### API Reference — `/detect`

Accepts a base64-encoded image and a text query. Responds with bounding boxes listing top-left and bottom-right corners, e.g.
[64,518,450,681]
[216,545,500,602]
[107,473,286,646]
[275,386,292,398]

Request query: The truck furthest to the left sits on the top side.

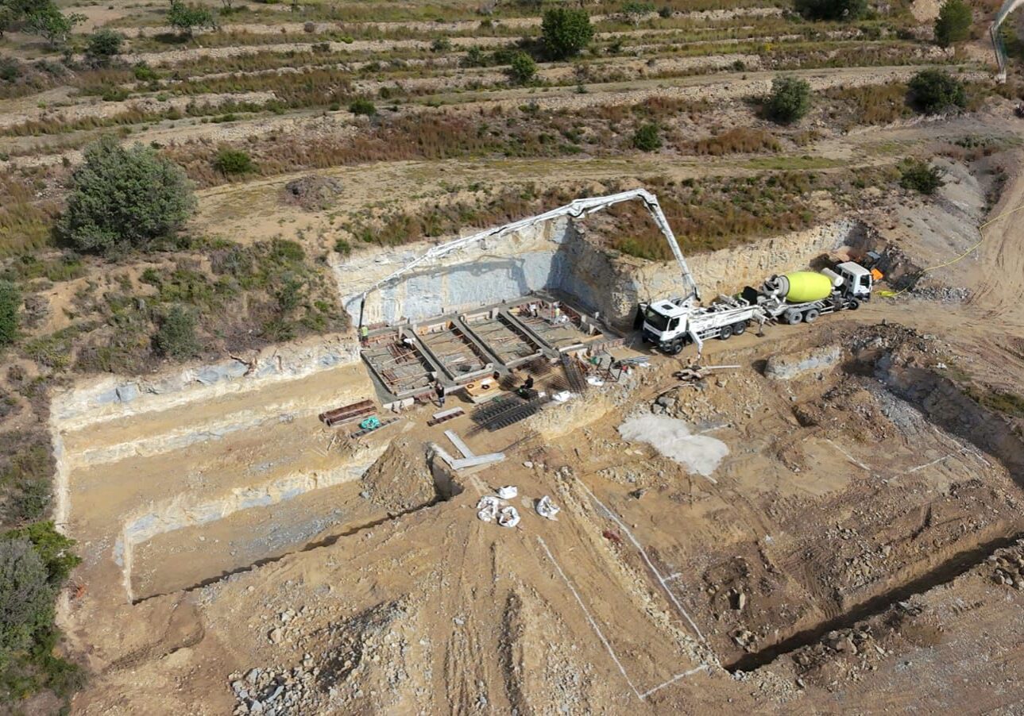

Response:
[359,187,771,362]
